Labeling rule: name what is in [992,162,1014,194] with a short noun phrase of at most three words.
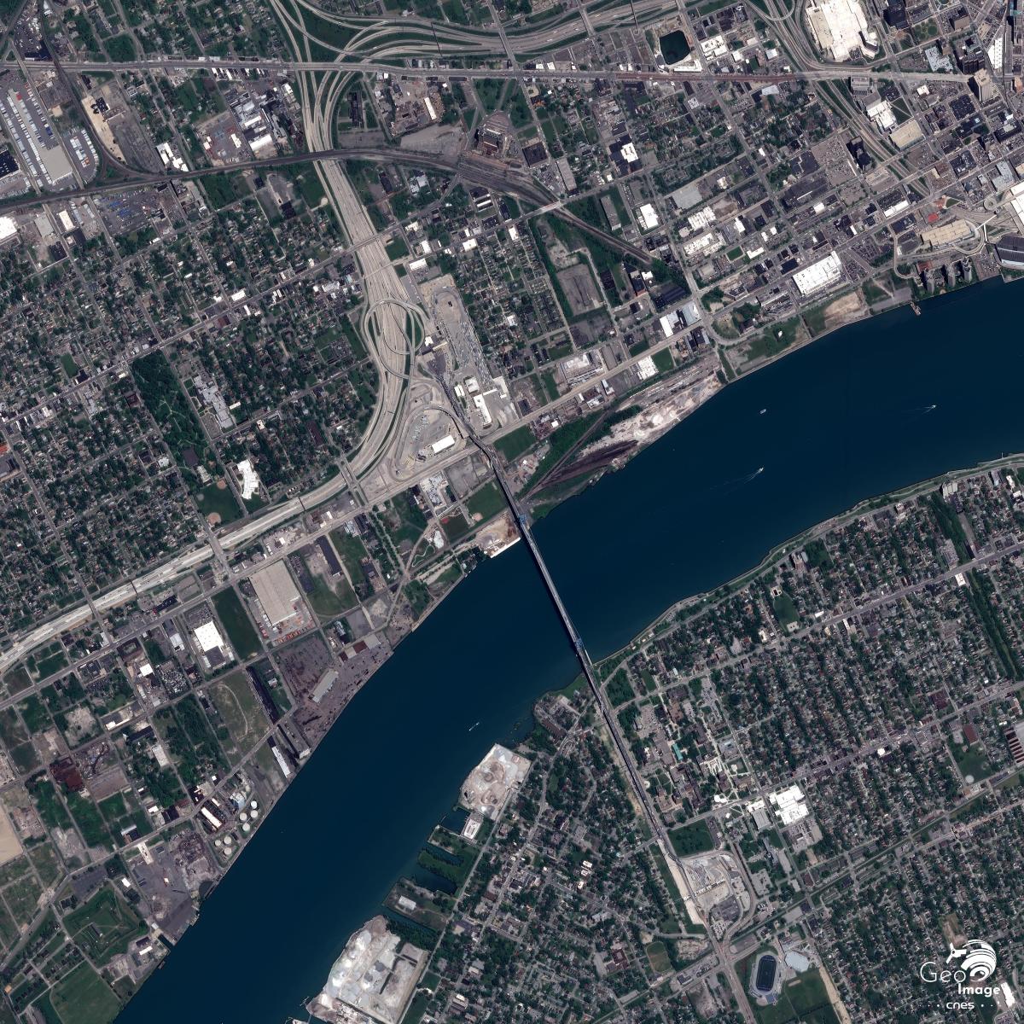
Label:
building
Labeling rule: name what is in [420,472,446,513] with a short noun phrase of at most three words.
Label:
building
